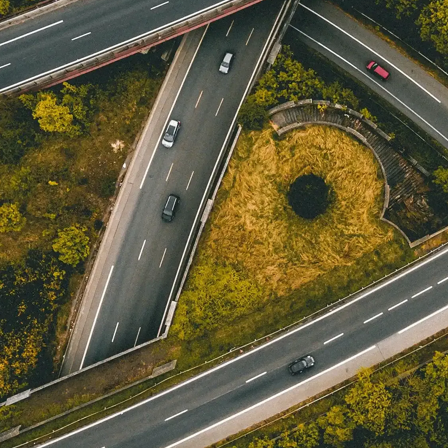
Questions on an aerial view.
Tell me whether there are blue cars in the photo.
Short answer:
No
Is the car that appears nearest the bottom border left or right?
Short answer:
right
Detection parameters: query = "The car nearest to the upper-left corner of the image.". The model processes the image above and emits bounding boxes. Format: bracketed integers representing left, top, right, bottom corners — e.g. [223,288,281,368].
[162,120,180,147]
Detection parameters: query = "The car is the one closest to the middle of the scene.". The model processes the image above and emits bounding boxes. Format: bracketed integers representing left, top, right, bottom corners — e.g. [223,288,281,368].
[161,193,179,222]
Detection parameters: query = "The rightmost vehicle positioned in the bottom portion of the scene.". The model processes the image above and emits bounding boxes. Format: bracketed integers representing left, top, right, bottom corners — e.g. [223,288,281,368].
[286,354,316,376]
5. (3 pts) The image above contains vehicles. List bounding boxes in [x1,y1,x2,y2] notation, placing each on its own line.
[162,120,180,147]
[161,193,179,222]
[366,61,390,80]
[286,354,316,376]
[219,51,235,75]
